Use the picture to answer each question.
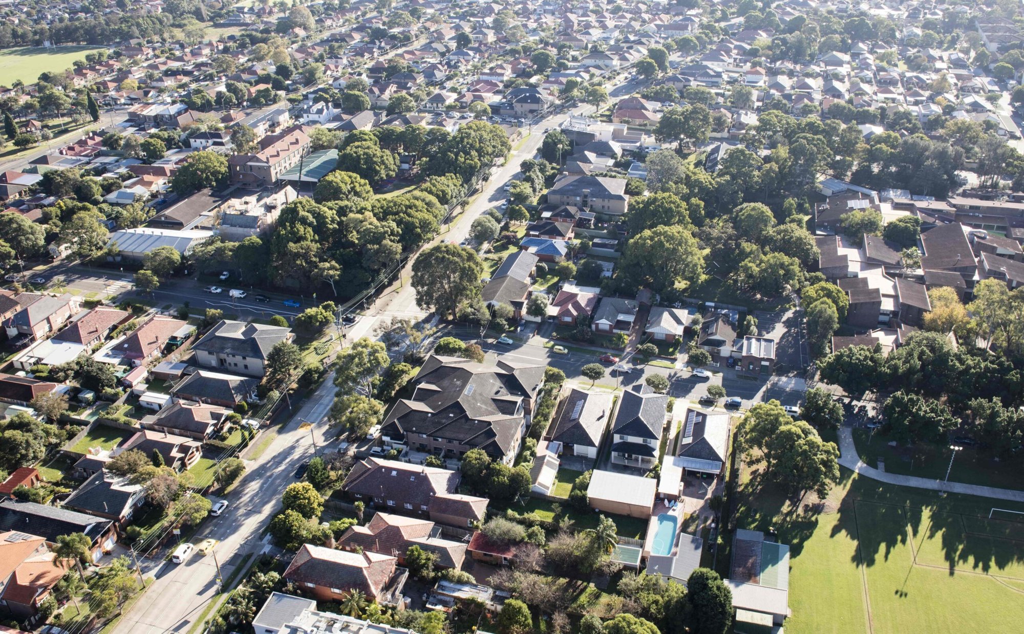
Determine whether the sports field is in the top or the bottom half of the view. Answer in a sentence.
It is in the bottom half that the sports field appears.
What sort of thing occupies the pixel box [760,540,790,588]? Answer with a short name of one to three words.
shed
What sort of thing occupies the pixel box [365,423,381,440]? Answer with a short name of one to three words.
vehicle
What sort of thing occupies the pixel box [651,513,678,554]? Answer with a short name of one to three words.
swimming pool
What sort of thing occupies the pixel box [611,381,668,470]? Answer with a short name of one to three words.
house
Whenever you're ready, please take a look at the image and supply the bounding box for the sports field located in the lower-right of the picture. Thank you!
[710,416,1024,634]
